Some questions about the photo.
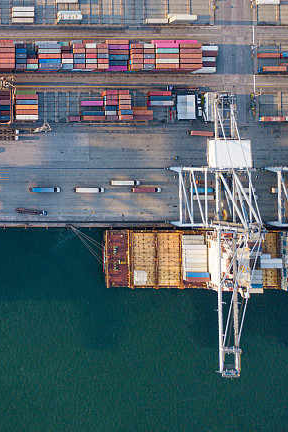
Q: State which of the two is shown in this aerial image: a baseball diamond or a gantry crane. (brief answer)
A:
gantry crane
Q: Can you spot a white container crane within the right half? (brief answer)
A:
Yes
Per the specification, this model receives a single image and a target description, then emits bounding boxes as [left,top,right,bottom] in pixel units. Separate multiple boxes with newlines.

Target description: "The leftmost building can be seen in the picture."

[172,95,196,120]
